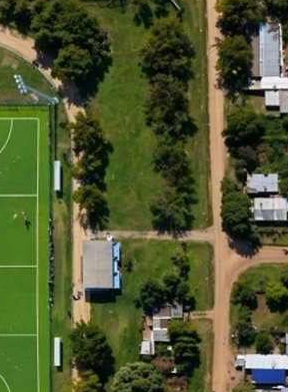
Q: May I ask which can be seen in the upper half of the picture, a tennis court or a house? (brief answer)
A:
house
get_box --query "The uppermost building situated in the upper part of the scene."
[251,23,282,79]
